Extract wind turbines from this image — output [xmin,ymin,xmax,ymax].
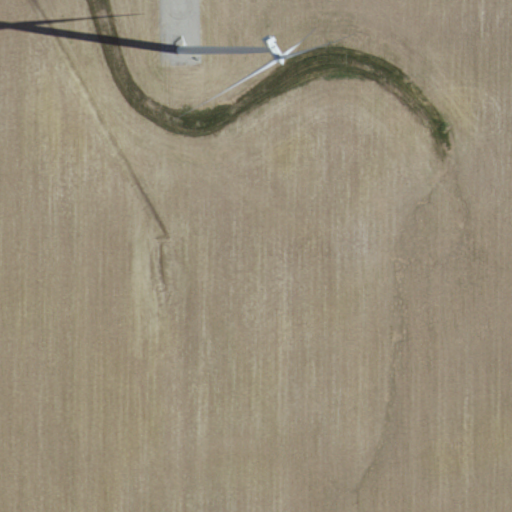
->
[176,30,345,108]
